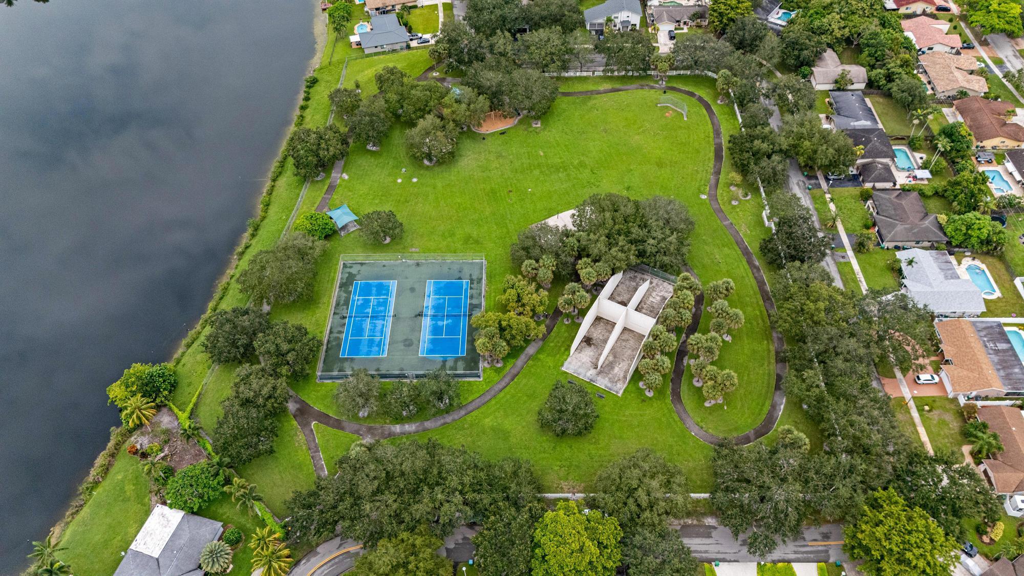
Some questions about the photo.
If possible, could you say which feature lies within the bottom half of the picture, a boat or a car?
car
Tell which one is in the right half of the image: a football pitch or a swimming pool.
swimming pool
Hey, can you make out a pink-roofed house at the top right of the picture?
Yes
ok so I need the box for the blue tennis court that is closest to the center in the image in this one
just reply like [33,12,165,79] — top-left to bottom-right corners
[419,280,470,356]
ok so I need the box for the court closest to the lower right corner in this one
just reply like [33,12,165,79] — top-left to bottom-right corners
[563,269,674,394]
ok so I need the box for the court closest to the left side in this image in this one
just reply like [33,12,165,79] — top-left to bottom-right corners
[339,281,397,357]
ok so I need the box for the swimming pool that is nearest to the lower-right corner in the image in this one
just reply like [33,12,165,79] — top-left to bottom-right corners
[1004,326,1024,370]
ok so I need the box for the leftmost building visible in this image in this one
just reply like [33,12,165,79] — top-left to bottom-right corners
[114,504,224,576]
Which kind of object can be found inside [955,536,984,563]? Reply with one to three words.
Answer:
car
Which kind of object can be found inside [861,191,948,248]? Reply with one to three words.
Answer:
house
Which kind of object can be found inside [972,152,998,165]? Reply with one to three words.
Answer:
gazebo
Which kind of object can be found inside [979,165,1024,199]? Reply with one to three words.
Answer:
swimming pool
